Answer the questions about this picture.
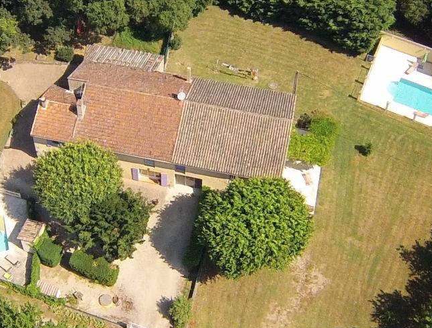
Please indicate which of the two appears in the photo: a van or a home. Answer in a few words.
home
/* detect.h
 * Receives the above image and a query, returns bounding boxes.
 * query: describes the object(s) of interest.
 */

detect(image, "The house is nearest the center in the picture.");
[29,44,297,201]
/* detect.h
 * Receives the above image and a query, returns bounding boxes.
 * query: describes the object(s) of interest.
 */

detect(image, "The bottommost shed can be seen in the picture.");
[17,218,45,252]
